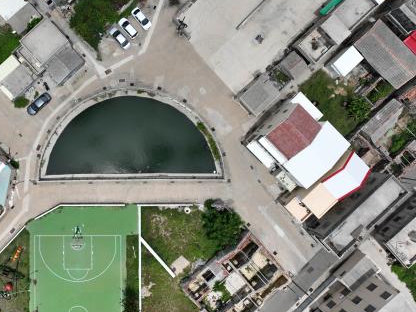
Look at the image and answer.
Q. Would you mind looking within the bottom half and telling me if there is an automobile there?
No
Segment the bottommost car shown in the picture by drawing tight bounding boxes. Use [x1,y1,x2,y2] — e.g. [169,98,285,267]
[25,91,52,116]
